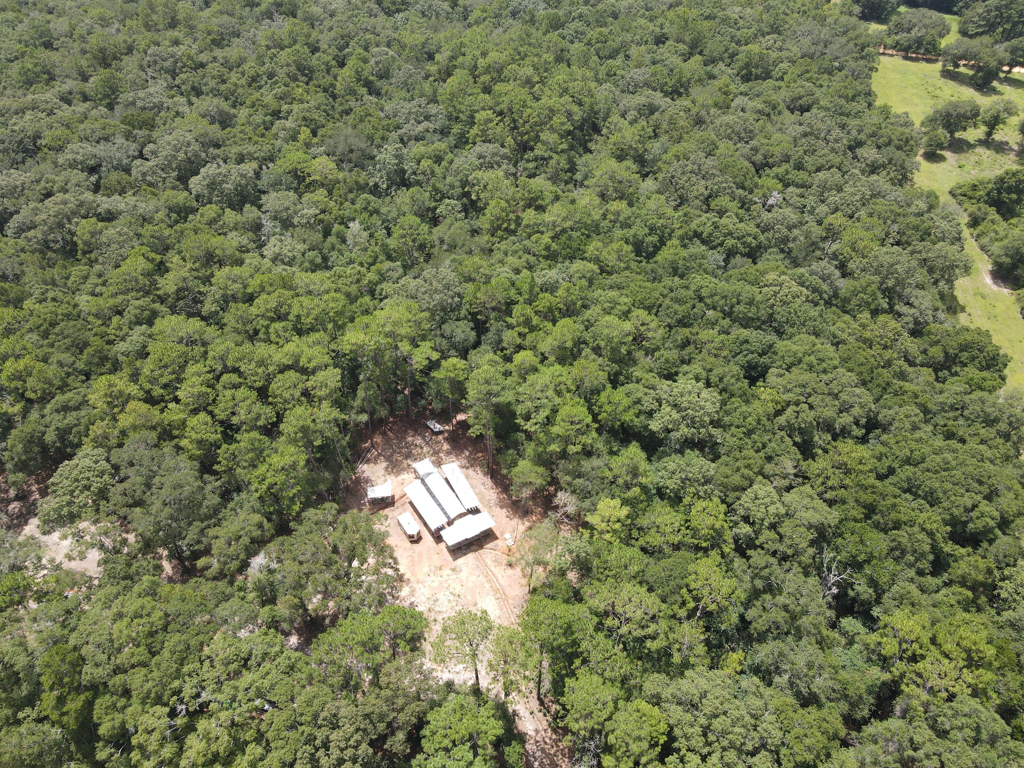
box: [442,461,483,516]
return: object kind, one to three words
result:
house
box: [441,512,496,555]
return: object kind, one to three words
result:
house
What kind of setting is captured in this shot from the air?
forest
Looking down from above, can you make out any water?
No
